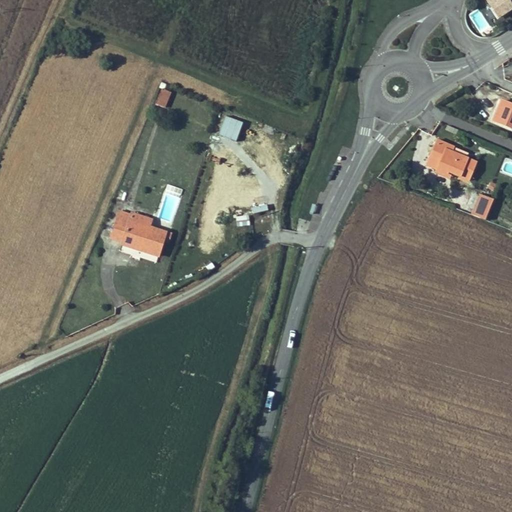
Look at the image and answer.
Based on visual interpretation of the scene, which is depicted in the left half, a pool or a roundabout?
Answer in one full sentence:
It is a pool that can be seen in the left half.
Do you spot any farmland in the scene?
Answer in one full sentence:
Yes, farmland can be seen from above here.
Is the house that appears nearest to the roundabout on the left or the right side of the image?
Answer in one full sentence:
The house that appears nearest to the roundabout appears in the right half of the scene.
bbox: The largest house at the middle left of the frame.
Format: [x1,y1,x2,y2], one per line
[110,210,167,263]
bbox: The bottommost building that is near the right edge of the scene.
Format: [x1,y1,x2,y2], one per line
[472,194,495,218]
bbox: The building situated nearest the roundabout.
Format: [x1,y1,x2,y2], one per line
[427,138,478,182]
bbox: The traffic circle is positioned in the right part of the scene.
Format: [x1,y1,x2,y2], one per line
[360,50,434,125]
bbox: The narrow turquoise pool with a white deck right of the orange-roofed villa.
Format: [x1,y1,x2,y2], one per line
[158,184,184,228]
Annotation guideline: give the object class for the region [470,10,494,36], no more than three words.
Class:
swimming pool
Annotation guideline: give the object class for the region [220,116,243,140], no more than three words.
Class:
shed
